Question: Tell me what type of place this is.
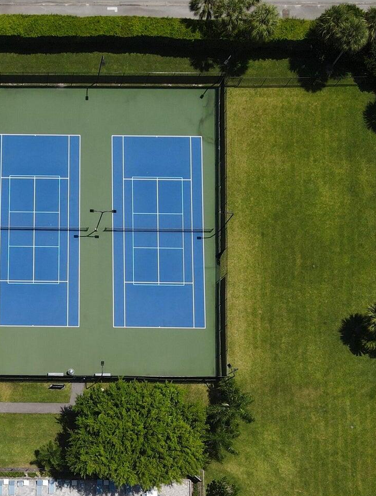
sports ground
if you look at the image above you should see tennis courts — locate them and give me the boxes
[96,86,220,378]
[0,86,97,378]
